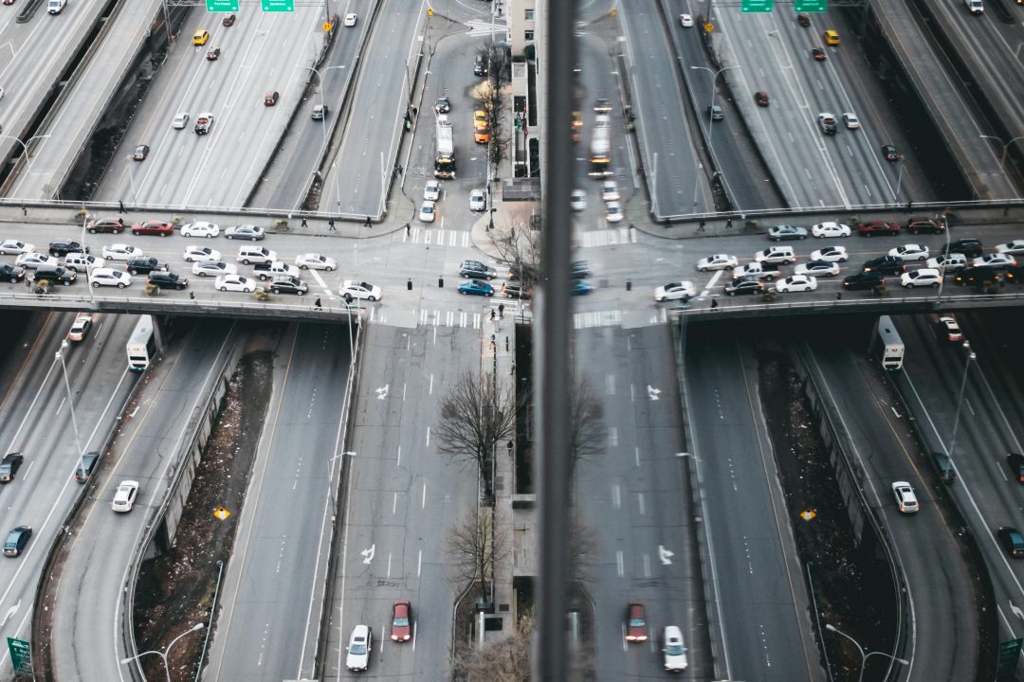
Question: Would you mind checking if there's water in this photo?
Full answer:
No, there is no water in the image.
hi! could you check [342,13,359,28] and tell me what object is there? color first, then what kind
white car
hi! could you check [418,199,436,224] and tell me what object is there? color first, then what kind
white car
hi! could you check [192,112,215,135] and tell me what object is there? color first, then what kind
white truck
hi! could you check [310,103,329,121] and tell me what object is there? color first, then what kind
gray car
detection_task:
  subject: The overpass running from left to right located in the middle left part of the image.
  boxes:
[0,196,388,352]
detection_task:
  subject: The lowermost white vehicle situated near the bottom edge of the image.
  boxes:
[345,624,374,668]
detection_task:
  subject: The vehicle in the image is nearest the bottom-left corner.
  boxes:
[2,526,33,559]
